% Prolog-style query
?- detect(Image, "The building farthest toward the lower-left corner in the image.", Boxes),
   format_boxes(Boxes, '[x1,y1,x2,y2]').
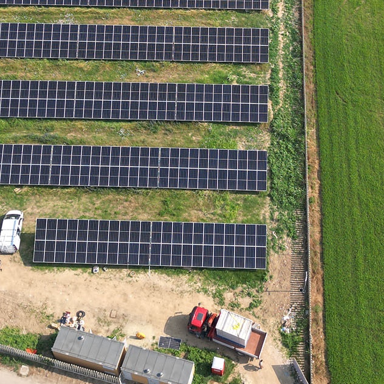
[51,326,126,377]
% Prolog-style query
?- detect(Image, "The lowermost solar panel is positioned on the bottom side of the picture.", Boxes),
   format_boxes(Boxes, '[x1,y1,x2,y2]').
[157,337,181,351]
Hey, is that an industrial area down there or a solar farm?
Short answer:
solar farm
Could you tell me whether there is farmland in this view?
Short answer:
Yes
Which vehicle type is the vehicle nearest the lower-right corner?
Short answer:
truck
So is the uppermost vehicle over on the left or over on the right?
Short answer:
left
